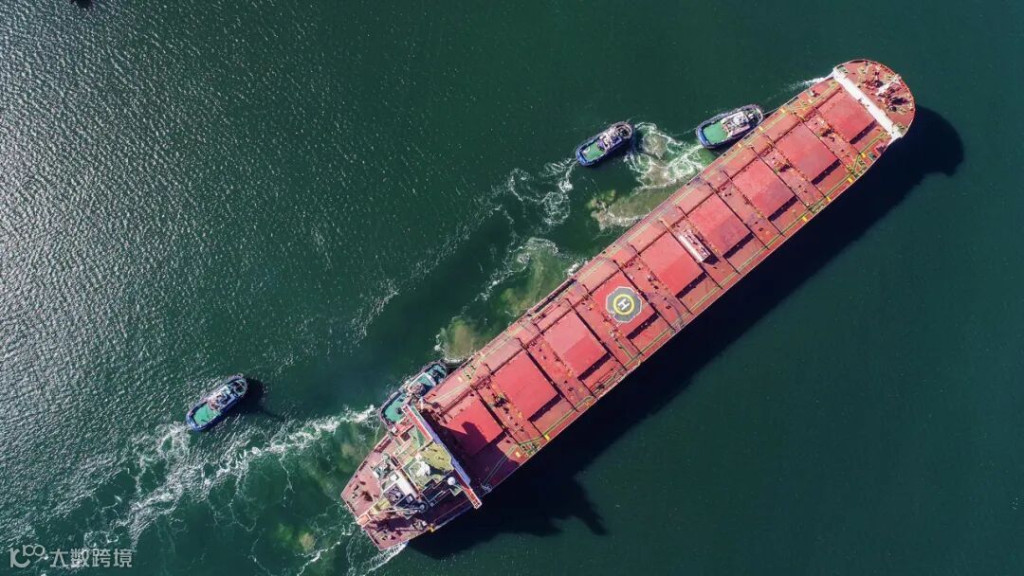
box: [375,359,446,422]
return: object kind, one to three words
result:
boat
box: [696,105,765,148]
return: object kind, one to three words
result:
boat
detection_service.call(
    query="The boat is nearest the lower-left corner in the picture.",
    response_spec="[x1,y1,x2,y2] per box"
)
[183,377,248,432]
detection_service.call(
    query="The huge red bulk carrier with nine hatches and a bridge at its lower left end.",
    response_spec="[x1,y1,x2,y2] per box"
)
[342,57,916,549]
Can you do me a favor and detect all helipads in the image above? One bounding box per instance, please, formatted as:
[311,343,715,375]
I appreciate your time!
[606,288,641,323]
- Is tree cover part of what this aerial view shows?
No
